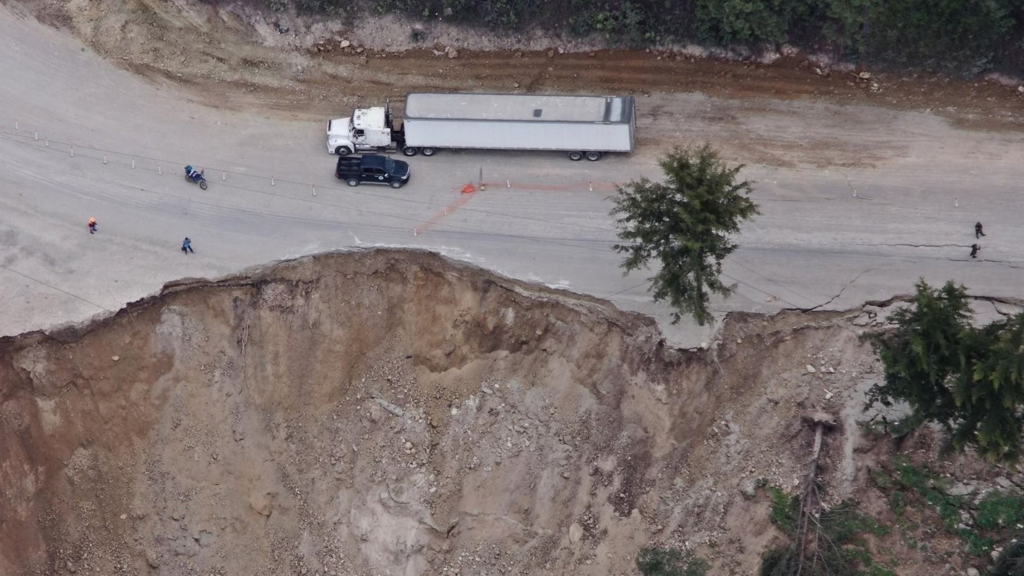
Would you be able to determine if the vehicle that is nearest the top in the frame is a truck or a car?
truck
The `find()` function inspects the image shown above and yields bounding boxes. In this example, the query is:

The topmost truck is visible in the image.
[323,91,637,161]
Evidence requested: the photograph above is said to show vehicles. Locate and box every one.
[323,91,637,161]
[183,172,208,190]
[334,151,410,188]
